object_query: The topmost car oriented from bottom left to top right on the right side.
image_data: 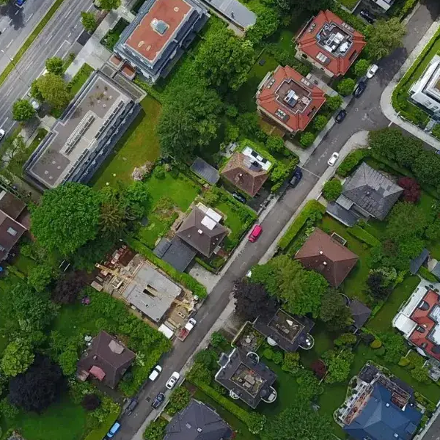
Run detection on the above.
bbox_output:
[366,63,379,79]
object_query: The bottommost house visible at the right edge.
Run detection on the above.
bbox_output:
[333,361,425,440]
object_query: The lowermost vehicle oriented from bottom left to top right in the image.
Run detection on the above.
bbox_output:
[107,422,120,438]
